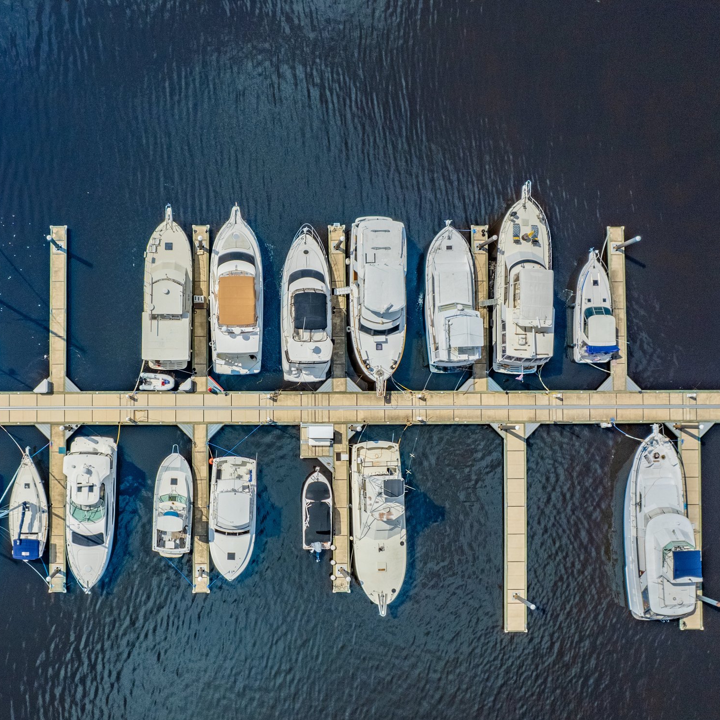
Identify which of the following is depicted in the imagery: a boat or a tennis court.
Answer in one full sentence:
There is a boat in the scene.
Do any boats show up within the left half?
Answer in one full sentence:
Yes, looking within the left half, one can make out a boat.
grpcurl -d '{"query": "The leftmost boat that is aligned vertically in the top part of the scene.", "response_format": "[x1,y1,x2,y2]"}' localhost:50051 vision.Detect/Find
[143,203,194,370]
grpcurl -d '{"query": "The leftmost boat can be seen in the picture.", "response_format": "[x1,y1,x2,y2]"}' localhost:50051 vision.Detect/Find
[0,446,52,562]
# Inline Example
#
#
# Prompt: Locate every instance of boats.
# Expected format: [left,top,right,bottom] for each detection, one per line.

[424,220,484,373]
[492,178,554,381]
[135,373,175,391]
[143,203,194,370]
[279,223,334,383]
[348,435,419,617]
[0,446,52,562]
[302,467,333,563]
[624,423,702,623]
[569,248,630,364]
[343,216,408,397]
[63,437,118,594]
[208,202,264,374]
[208,450,258,581]
[152,444,194,557]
